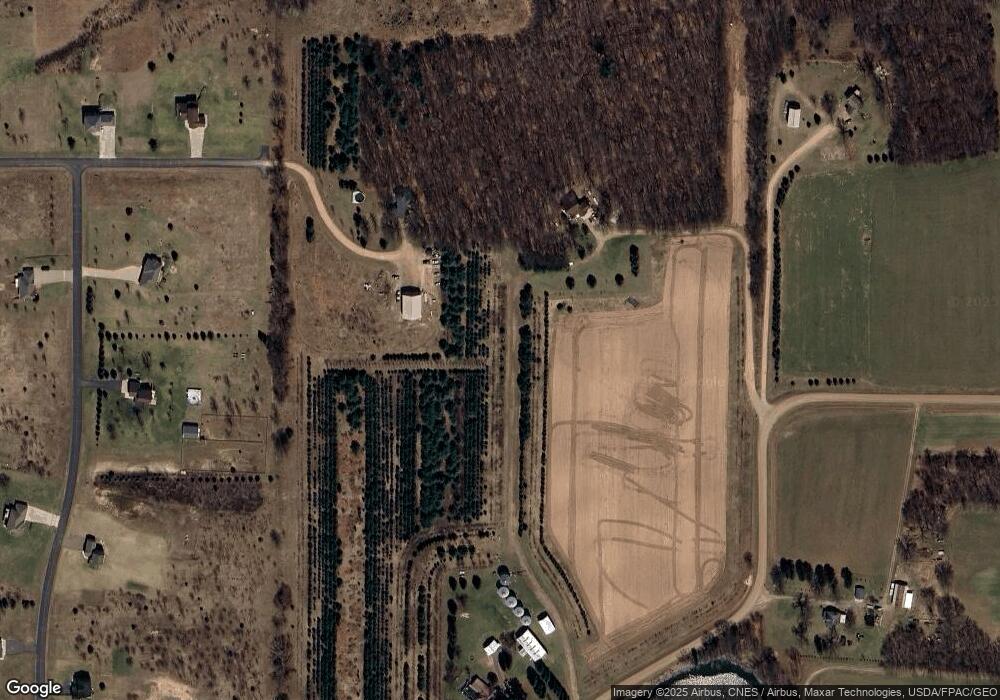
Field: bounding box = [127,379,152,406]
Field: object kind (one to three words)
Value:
house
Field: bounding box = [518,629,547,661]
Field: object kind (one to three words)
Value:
barn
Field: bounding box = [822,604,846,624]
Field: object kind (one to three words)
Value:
house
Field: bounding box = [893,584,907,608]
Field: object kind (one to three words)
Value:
barn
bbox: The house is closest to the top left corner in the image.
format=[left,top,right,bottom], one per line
[85,108,115,131]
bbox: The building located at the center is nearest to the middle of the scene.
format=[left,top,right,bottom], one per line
[402,291,422,318]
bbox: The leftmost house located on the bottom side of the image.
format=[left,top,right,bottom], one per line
[3,500,29,529]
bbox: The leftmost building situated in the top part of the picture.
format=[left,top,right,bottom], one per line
[16,266,34,293]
